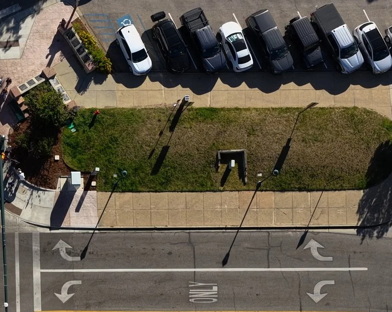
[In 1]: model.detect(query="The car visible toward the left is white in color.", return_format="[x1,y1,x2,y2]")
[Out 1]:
[116,24,151,78]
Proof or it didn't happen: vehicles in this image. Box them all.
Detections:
[312,2,364,77]
[182,7,224,76]
[219,21,253,74]
[154,14,191,76]
[247,8,292,77]
[116,24,151,78]
[289,12,324,71]
[355,22,392,77]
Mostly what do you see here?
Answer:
paved ground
